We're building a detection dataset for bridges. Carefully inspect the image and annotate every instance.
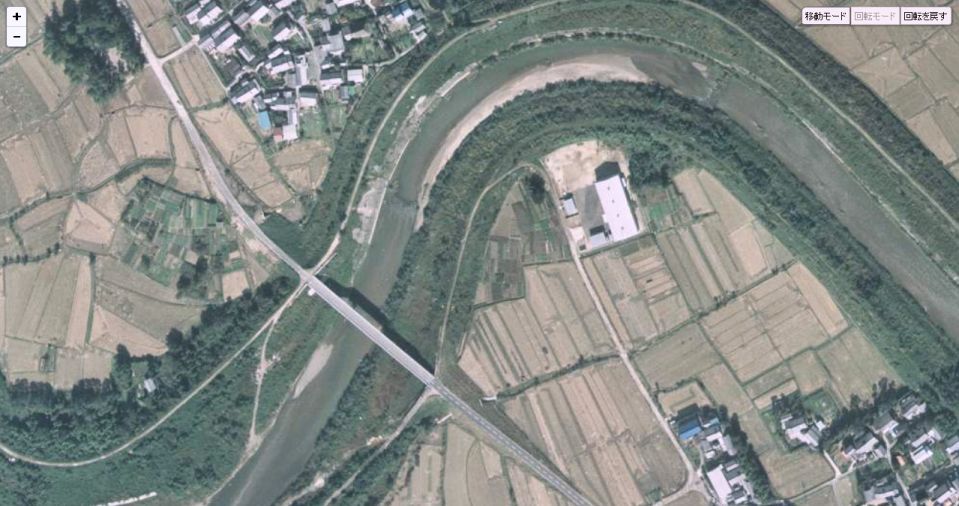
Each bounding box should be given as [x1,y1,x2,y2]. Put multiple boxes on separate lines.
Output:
[304,273,437,387]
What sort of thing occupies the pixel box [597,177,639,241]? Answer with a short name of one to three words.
building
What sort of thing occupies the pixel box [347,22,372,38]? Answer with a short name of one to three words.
house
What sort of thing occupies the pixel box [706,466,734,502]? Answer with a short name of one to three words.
barn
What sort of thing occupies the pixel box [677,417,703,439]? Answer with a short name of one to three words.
house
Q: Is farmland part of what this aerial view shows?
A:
Yes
